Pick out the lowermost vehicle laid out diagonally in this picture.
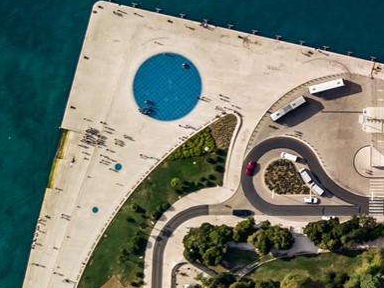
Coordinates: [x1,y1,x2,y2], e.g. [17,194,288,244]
[310,182,326,197]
